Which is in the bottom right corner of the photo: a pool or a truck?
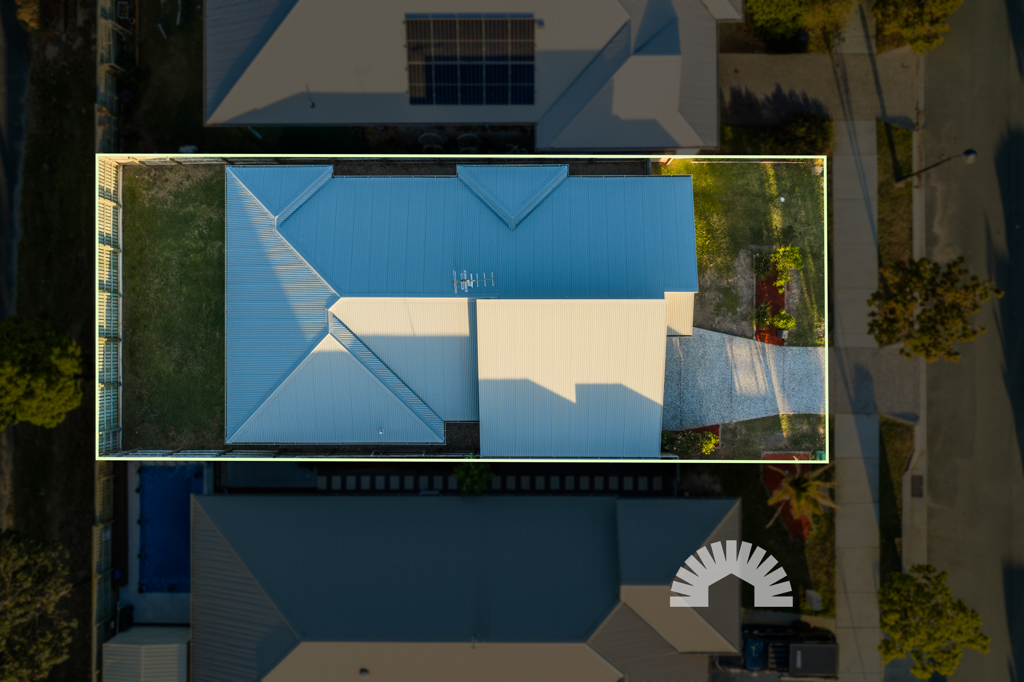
truck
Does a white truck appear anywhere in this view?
No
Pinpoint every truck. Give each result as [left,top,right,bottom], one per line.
[715,623,840,677]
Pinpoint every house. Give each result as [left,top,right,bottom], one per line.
[202,0,746,155]
[189,493,744,682]
[222,162,700,461]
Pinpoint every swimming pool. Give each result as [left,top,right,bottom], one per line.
[136,466,202,595]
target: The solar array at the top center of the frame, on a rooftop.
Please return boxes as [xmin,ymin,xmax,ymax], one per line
[405,19,541,105]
